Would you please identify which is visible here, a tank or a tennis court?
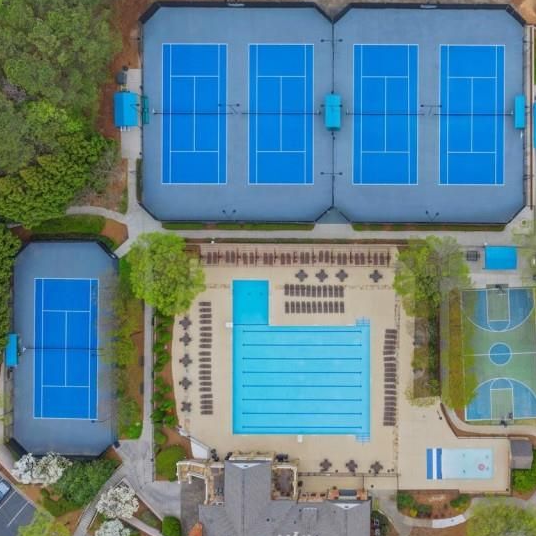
tennis court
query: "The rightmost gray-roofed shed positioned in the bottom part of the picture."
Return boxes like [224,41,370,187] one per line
[509,438,535,470]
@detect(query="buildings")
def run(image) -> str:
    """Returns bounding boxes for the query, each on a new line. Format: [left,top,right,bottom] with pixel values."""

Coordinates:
[197,457,372,536]
[509,438,535,470]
